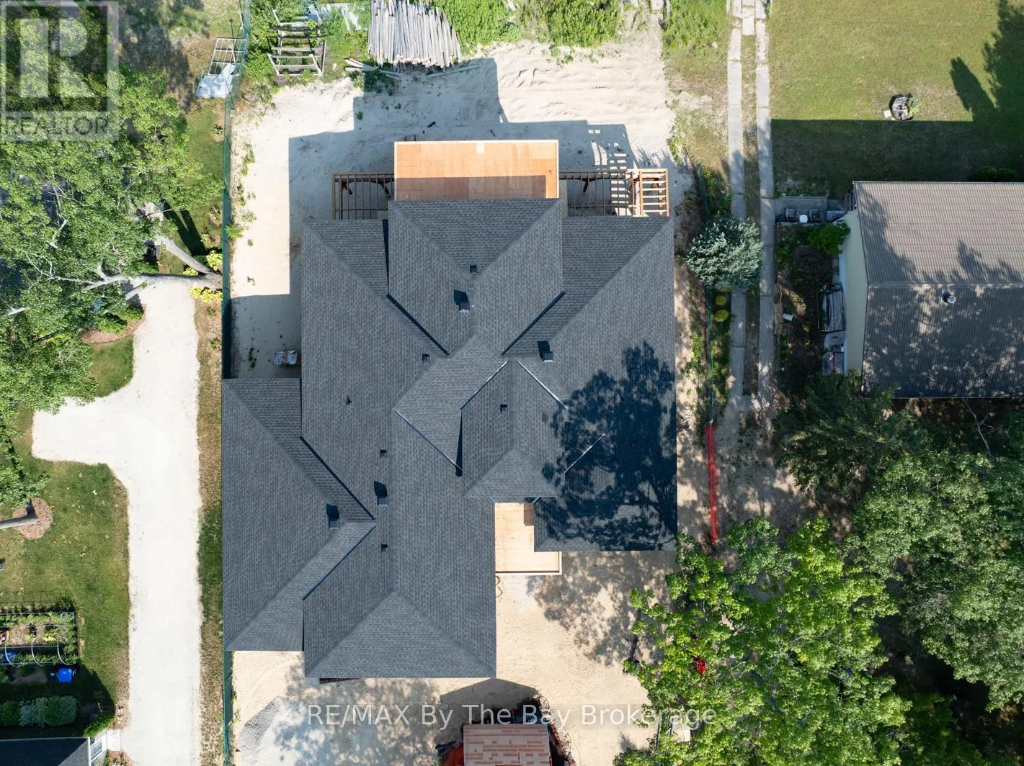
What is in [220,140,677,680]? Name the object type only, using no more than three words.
house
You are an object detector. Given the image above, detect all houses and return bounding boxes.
[0,733,106,766]
[220,140,677,680]
[841,179,1024,400]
